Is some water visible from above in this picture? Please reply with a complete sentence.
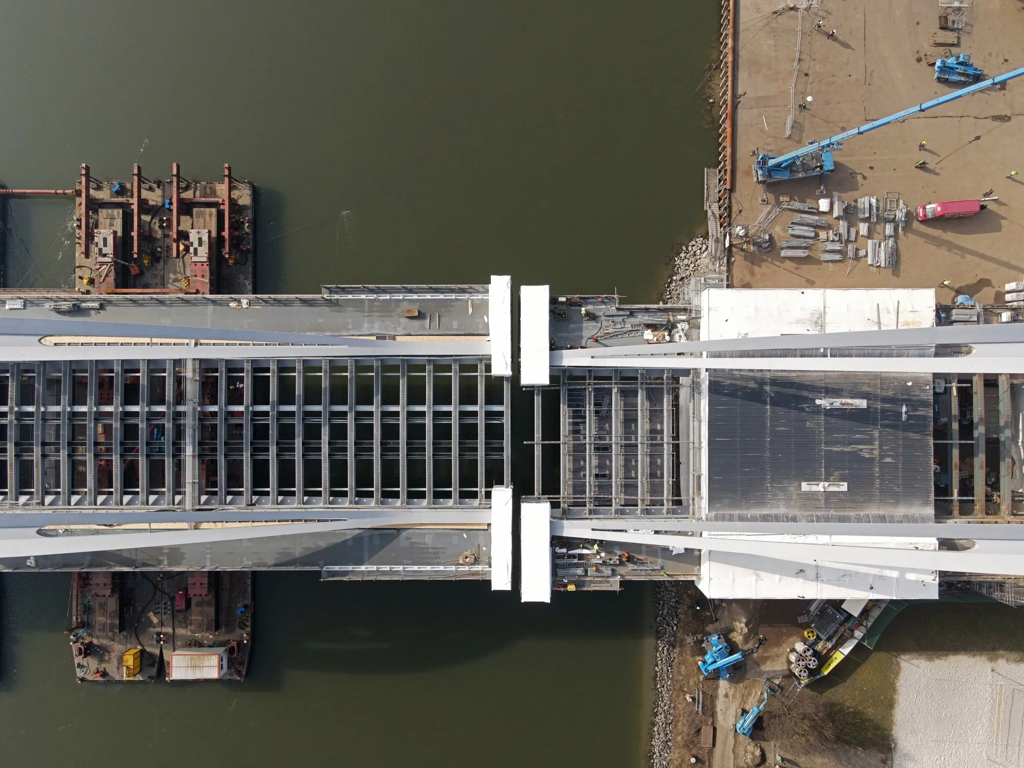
Yes, water can be seen from above here.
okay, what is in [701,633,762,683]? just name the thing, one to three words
work vehicle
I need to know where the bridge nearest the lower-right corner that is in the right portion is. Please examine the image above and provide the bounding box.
[534,294,1024,593]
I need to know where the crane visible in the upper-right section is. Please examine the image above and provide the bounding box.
[748,72,1024,203]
